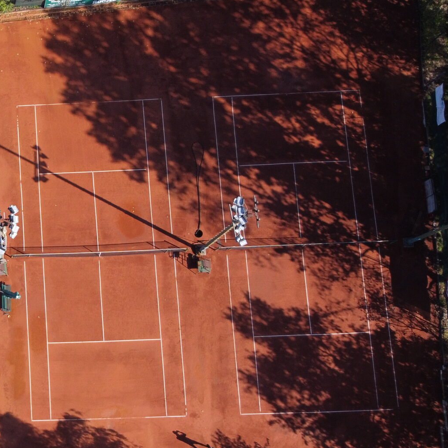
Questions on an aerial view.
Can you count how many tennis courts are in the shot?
2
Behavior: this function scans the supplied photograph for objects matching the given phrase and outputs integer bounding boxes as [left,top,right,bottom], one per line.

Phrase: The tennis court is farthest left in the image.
[10,92,194,428]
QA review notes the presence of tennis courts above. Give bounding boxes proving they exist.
[10,92,194,428]
[205,84,408,422]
